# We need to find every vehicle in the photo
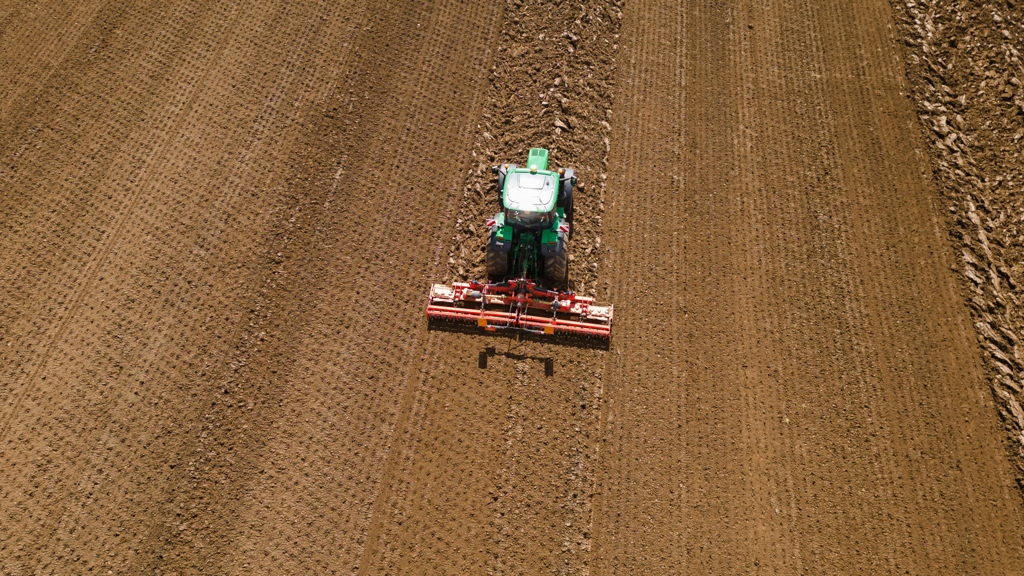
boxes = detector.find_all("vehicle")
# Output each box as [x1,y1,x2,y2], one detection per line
[484,147,576,282]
